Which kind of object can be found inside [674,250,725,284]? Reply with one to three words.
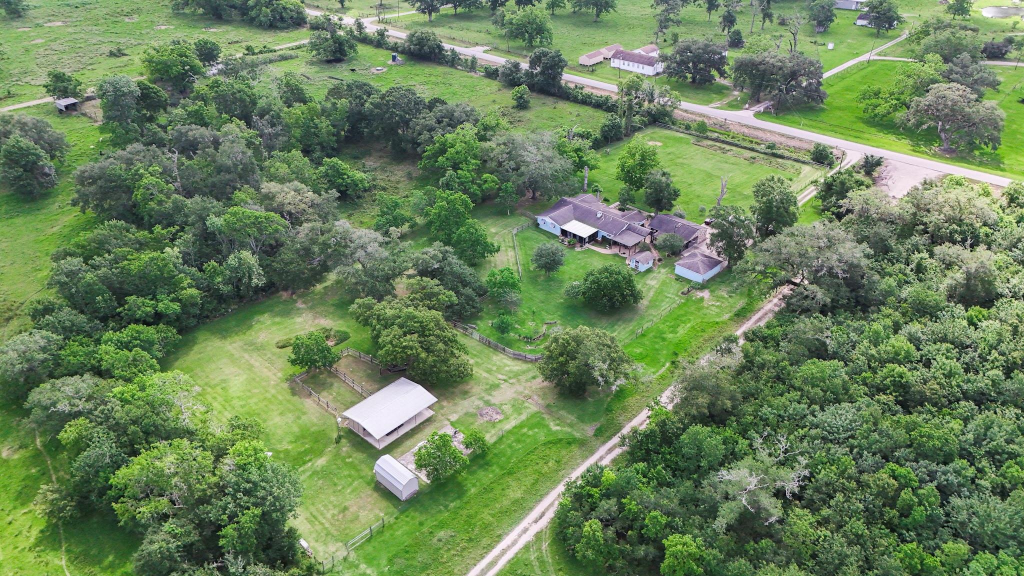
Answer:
building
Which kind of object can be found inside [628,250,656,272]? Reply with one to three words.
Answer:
shed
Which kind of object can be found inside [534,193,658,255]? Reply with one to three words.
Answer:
house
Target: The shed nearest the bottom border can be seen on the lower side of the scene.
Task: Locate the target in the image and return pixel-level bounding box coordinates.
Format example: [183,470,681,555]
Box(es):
[373,456,419,502]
